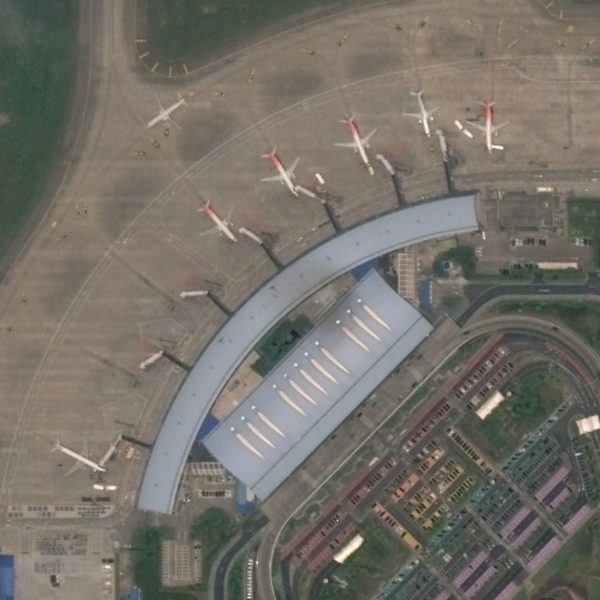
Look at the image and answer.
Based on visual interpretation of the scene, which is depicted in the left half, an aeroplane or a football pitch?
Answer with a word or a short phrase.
aeroplane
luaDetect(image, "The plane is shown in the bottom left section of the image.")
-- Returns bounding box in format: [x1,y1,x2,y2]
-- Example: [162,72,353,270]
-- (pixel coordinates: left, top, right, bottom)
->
[51,433,106,480]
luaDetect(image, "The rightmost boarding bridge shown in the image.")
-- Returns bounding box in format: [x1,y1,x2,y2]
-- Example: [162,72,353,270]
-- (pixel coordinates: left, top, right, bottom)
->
[436,129,455,195]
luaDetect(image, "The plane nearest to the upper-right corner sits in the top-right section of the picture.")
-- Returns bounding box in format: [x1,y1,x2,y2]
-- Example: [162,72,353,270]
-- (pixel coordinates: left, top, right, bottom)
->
[468,103,510,153]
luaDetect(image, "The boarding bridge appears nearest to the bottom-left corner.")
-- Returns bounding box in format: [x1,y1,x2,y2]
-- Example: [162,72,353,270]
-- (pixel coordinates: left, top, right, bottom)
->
[99,435,154,468]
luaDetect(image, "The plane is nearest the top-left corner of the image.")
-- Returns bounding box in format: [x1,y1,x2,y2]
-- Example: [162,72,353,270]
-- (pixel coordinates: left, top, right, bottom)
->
[148,91,189,128]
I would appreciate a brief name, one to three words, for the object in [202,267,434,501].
building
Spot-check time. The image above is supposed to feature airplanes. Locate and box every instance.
[404,92,442,138]
[468,103,510,153]
[338,116,378,165]
[148,91,189,128]
[262,148,302,197]
[198,199,238,243]
[51,433,106,480]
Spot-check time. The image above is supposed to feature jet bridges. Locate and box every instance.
[436,129,455,195]
[296,185,343,236]
[376,154,405,210]
[99,435,154,468]
[179,289,231,318]
[240,227,284,272]
[140,350,189,371]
